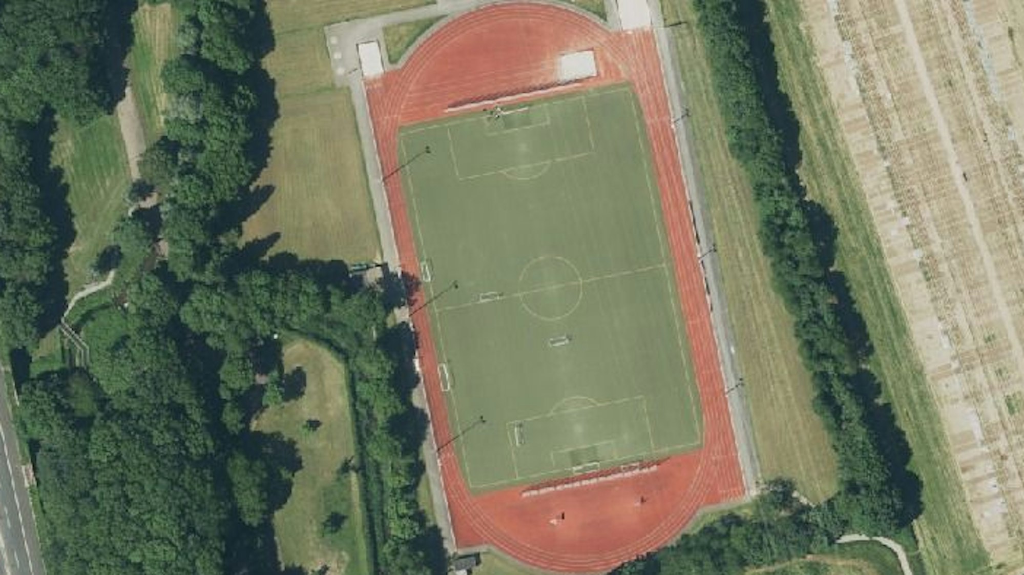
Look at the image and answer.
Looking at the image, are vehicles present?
No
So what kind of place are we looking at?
sports ground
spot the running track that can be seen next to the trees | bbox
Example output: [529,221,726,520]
[360,2,749,573]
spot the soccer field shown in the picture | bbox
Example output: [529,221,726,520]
[396,79,705,496]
